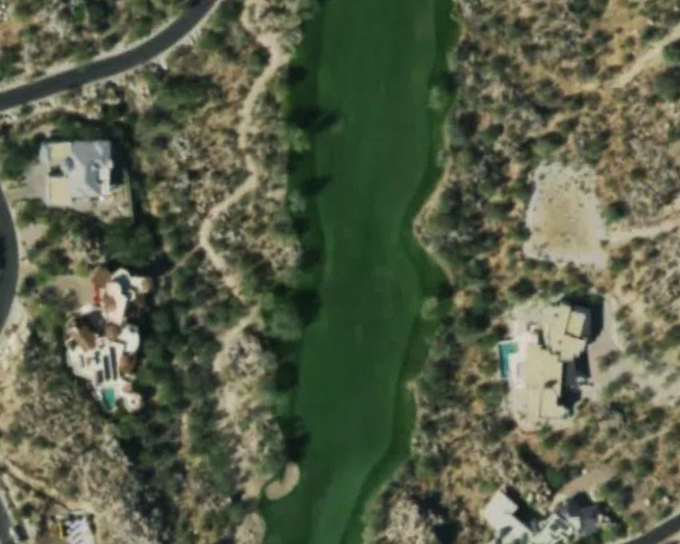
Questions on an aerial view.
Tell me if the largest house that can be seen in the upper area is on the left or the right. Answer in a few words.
left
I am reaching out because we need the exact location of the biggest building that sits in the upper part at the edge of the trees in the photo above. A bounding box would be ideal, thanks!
[39,141,134,219]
